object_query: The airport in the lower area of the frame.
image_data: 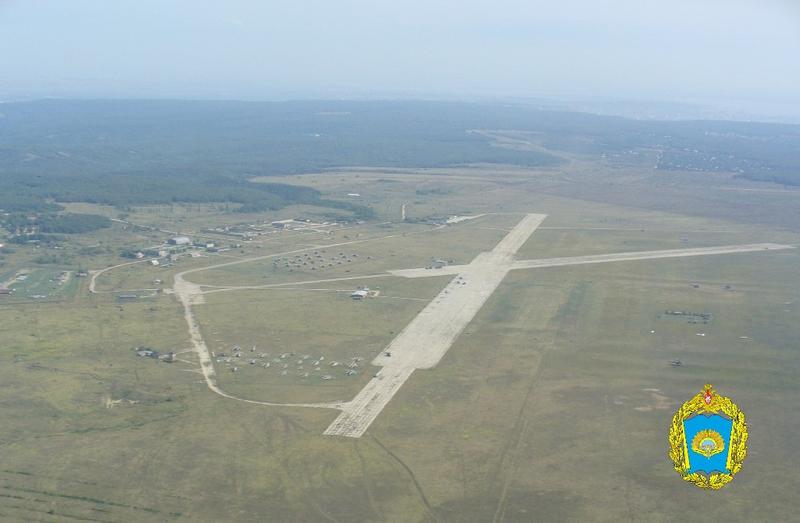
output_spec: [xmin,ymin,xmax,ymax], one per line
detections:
[162,213,796,438]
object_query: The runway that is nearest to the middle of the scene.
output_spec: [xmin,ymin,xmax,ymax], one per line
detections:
[372,213,546,368]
